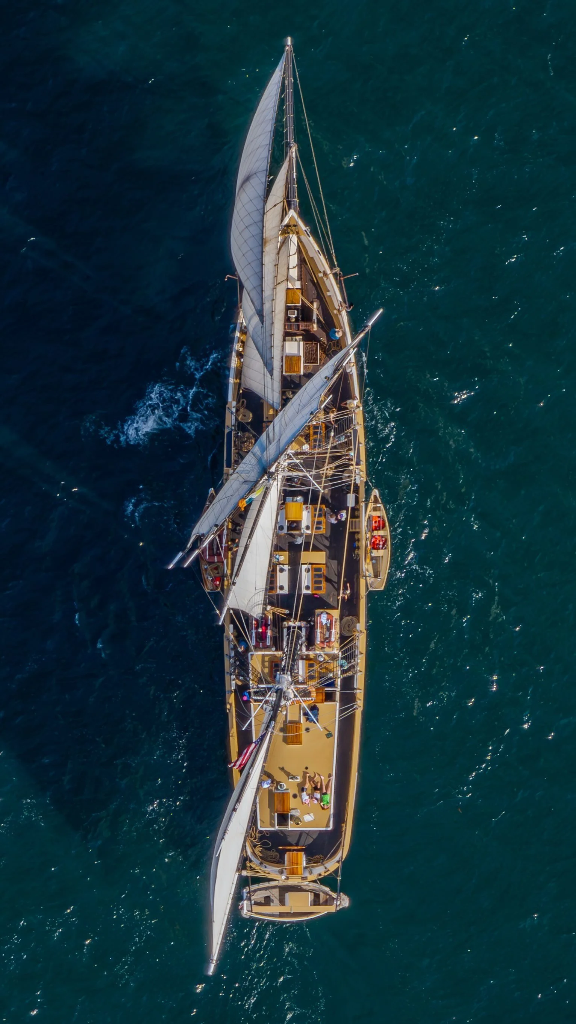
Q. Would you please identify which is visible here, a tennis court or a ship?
ship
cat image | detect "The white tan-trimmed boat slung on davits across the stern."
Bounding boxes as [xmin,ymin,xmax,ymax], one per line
[238,881,337,921]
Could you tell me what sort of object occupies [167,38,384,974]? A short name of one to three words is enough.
ship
